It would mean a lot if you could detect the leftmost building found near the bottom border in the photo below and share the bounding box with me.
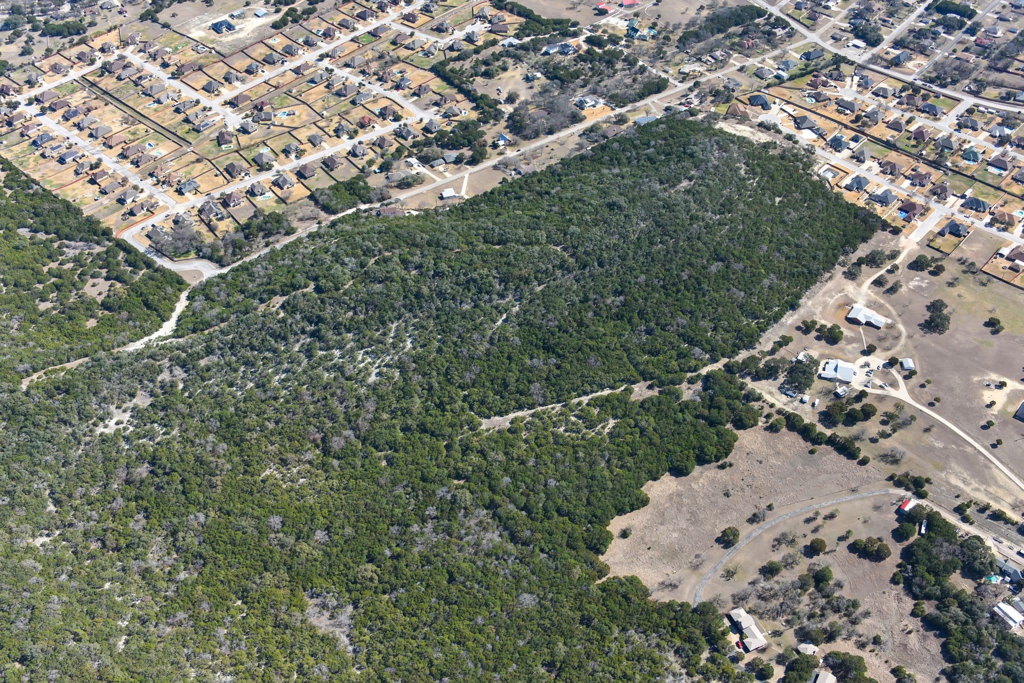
[728,606,764,655]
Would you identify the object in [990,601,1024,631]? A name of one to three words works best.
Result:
barn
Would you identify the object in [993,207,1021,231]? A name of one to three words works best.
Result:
house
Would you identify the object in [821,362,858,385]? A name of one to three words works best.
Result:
house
